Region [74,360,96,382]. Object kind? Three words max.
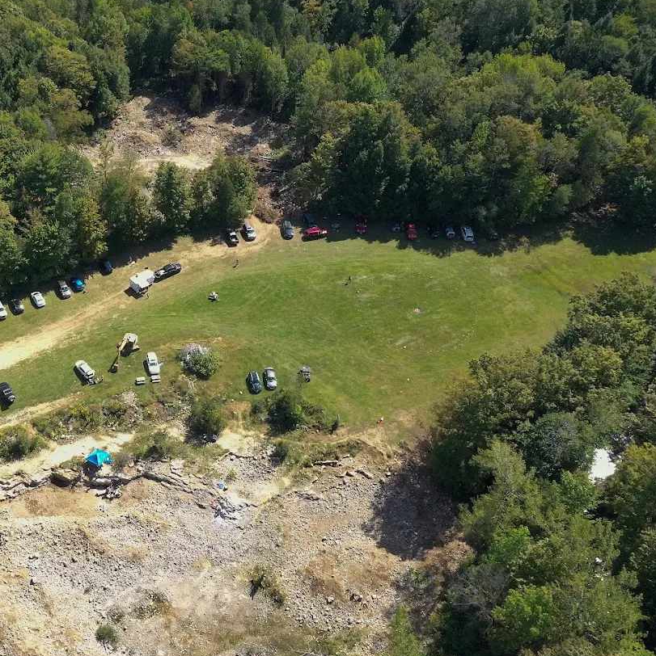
vehicle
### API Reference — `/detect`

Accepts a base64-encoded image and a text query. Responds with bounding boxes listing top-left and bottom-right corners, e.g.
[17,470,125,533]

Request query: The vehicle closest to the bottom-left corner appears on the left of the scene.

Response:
[0,382,14,405]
